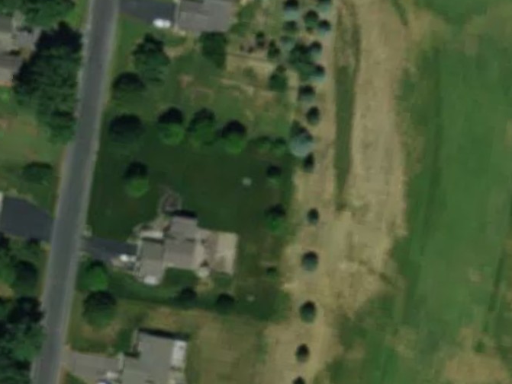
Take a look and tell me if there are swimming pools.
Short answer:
No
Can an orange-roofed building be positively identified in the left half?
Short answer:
No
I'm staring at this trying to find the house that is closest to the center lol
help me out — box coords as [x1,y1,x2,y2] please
[137,213,221,284]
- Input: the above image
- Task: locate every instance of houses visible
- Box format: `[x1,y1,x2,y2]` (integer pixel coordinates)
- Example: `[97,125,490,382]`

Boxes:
[0,14,21,84]
[119,333,187,384]
[176,0,239,34]
[137,213,221,284]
